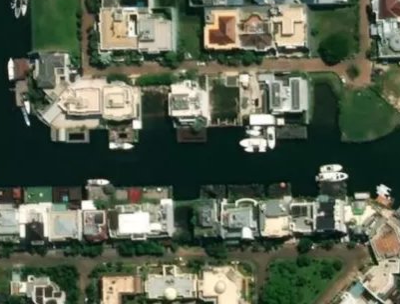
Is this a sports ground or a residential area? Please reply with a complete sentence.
The area seen from above is a residential area.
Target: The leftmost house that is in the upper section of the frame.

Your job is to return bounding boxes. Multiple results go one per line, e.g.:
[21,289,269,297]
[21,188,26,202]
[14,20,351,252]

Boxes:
[35,53,70,104]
